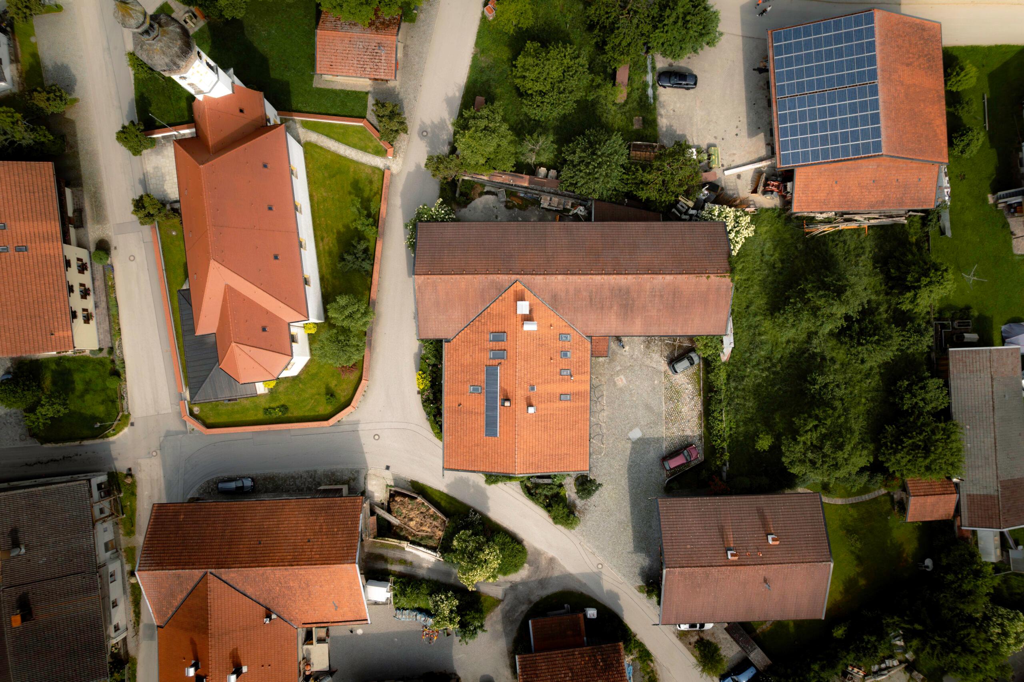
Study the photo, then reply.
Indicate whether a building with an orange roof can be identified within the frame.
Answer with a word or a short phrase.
Yes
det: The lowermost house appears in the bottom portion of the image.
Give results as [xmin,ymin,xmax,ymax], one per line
[516,608,634,682]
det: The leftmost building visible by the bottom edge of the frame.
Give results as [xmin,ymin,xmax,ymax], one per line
[0,477,132,682]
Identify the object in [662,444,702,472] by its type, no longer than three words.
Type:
car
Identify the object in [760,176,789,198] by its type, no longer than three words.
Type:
work vehicle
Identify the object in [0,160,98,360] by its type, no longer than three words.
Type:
house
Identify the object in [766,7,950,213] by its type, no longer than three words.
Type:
barn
